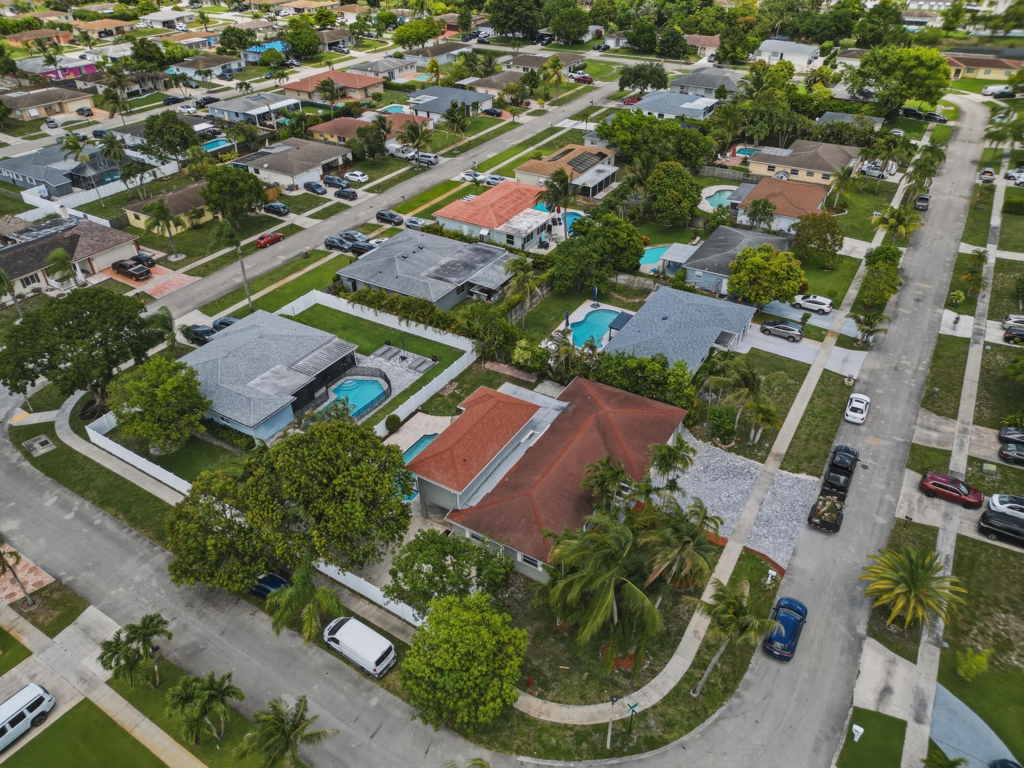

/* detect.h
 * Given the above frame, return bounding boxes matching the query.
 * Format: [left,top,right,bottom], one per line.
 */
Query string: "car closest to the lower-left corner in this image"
[0,672,68,761]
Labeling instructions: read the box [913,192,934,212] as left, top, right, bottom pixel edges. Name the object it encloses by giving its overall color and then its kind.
gray vehicle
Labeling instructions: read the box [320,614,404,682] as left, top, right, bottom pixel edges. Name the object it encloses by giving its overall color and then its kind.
white van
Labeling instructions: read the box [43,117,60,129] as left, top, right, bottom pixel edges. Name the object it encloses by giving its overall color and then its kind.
gray vehicle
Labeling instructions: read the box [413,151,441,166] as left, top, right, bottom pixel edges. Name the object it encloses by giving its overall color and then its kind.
gray car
